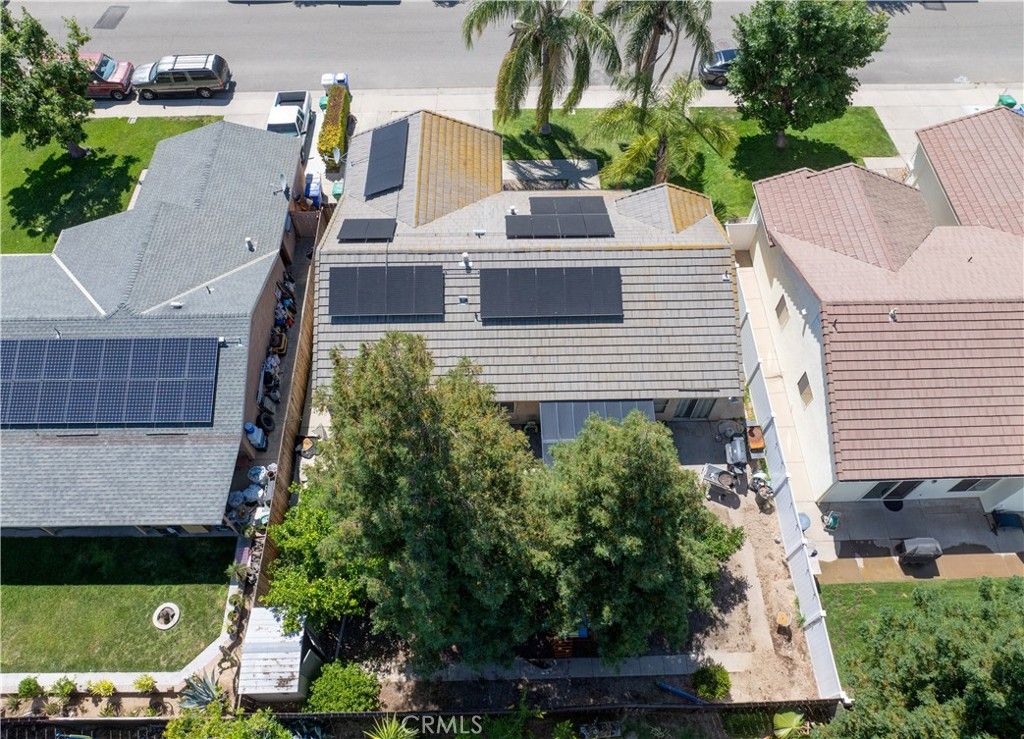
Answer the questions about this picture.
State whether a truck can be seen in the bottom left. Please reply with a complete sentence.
No, looking in the bottom left, there is no truck.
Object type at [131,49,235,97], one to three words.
car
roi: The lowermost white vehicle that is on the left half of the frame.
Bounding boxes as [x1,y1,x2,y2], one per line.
[264,92,313,166]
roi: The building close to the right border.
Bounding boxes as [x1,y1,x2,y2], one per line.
[743,103,1024,510]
